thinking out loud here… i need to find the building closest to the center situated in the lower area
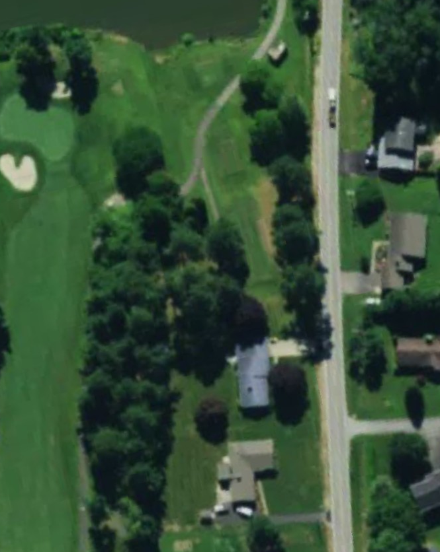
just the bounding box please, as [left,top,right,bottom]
[235,338,270,408]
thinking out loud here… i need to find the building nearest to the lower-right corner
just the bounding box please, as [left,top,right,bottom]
[404,467,440,512]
